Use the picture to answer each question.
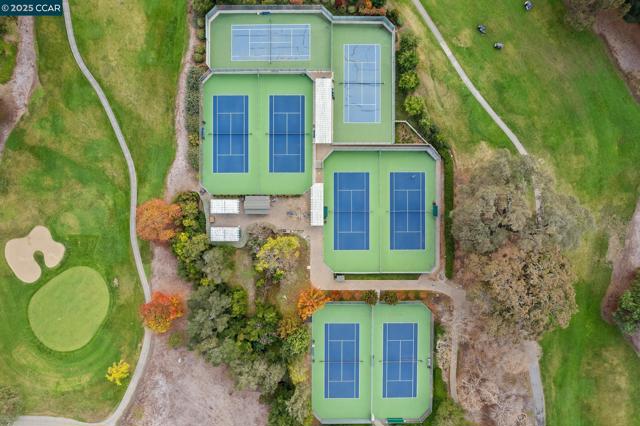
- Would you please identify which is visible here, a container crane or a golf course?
golf course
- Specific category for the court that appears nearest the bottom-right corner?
tennis court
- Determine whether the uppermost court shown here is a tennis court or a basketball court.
tennis court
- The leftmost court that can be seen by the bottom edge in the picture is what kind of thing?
tennis court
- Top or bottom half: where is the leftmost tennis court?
top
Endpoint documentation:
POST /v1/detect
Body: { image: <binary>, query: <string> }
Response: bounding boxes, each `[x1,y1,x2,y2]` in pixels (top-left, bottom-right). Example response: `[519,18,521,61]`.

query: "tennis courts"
[312,304,372,420]
[379,151,436,272]
[374,304,431,420]
[323,151,379,272]
[203,74,258,195]
[258,74,314,195]
[211,13,332,71]
[332,24,392,143]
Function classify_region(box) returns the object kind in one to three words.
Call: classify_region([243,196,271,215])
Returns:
building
